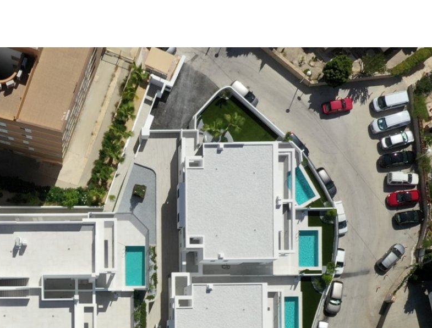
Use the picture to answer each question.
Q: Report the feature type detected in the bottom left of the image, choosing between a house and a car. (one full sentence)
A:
Visible in the bottom left of the image is a house.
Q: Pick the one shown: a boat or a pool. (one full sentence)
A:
I can see a pool in this picture.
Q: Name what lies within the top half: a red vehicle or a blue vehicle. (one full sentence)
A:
It is a red vehicle that can be seen within the top half.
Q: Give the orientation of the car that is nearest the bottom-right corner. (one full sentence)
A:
I'd say the car that is nearest the bottom-right corner is aligned on a diagonal in the picture.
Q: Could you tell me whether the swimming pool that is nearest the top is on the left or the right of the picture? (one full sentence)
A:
You can find the swimming pool that is nearest the top on the right side of the picture.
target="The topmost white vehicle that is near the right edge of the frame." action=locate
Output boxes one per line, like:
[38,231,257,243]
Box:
[368,90,411,112]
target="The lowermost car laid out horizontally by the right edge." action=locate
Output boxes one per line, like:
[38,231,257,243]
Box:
[390,210,424,226]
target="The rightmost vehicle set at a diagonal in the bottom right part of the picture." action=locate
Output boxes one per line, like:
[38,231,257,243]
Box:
[372,241,404,275]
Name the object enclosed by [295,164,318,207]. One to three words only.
swimming pool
